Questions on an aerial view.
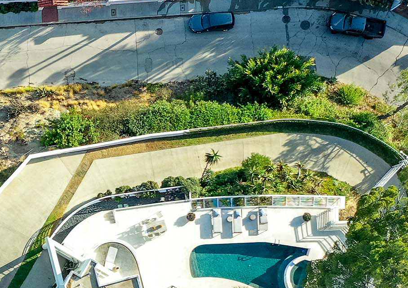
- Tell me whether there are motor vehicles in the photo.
Yes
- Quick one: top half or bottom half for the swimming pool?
bottom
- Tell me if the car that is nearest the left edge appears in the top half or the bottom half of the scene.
top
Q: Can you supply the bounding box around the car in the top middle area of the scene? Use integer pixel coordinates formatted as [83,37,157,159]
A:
[186,10,236,36]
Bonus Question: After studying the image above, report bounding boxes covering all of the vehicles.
[325,11,388,42]
[186,10,236,36]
